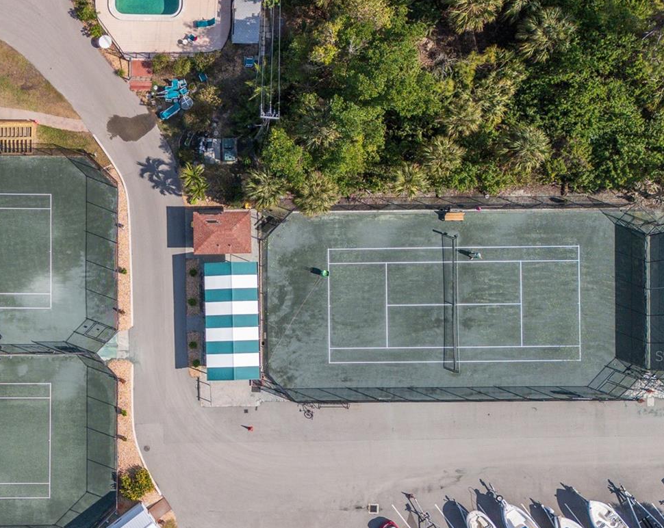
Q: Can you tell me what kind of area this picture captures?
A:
sports ground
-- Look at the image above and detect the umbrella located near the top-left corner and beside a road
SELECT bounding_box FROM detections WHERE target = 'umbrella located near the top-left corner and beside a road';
[98,35,111,50]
